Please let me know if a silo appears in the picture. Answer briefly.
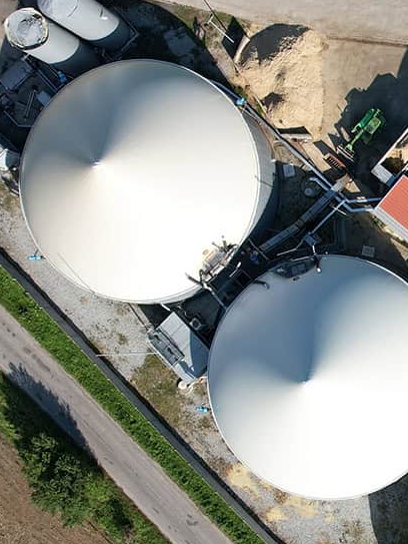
Yes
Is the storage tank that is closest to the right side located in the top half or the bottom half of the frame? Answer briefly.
bottom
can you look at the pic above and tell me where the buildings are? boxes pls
[156,312,214,390]
[367,172,408,251]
